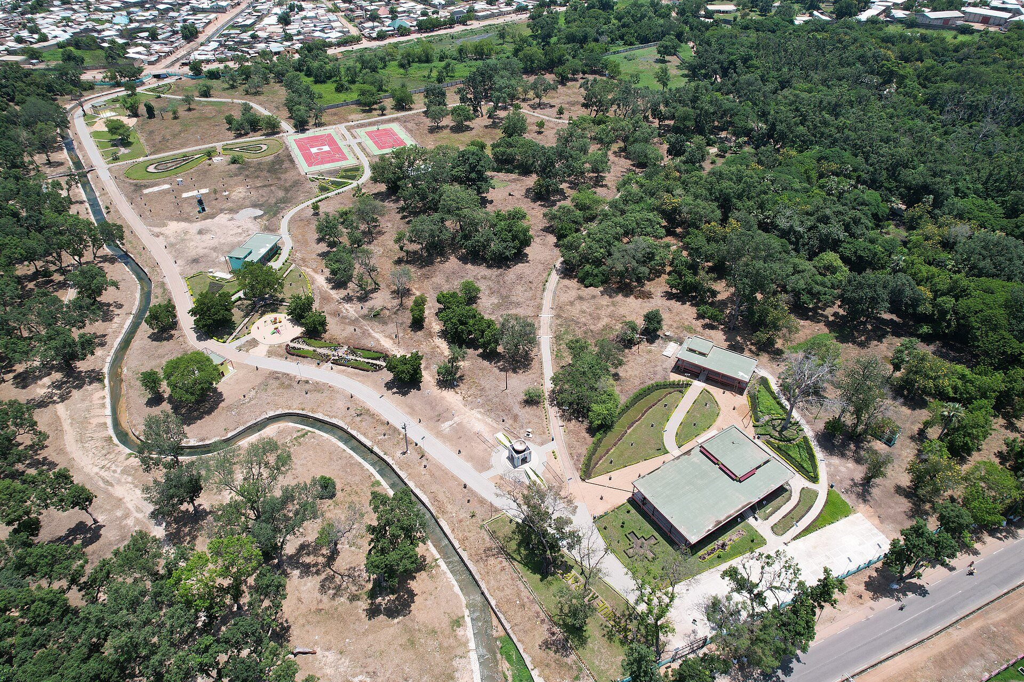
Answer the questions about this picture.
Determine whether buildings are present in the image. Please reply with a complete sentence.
Yes, I can see a building in this picture.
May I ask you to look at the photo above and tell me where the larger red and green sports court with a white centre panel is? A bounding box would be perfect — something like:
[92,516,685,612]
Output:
[286,128,359,173]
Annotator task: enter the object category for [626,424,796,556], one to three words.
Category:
building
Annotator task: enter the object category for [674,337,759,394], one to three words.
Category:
building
